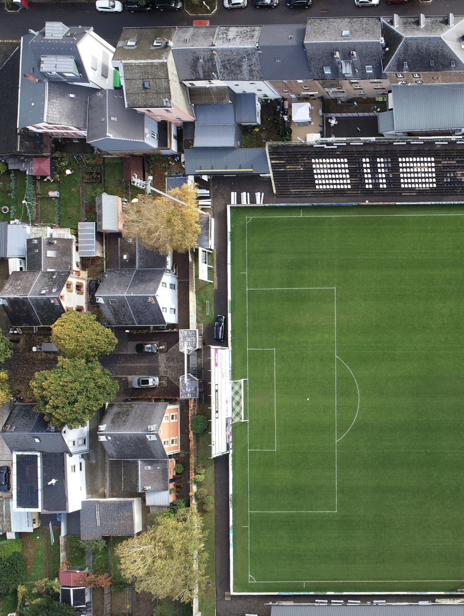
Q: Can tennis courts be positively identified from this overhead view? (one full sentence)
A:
No, the photo shows no tennis court.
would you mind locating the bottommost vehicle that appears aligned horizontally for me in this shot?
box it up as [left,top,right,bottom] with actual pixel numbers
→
[133,376,158,388]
